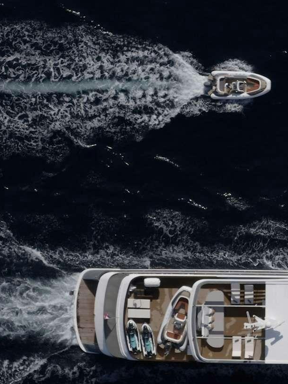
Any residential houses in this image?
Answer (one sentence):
No, the scene contains no residential house.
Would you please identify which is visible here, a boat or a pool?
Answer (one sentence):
This aerial view contains a boat.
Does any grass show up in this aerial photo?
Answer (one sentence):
No, there's no grass in this view.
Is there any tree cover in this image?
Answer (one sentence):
No, the scene doesn't show any tree cover.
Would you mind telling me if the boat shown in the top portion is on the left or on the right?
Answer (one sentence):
The boat shown in the top portion is on the right side of the image.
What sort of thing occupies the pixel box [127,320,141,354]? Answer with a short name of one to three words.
boat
